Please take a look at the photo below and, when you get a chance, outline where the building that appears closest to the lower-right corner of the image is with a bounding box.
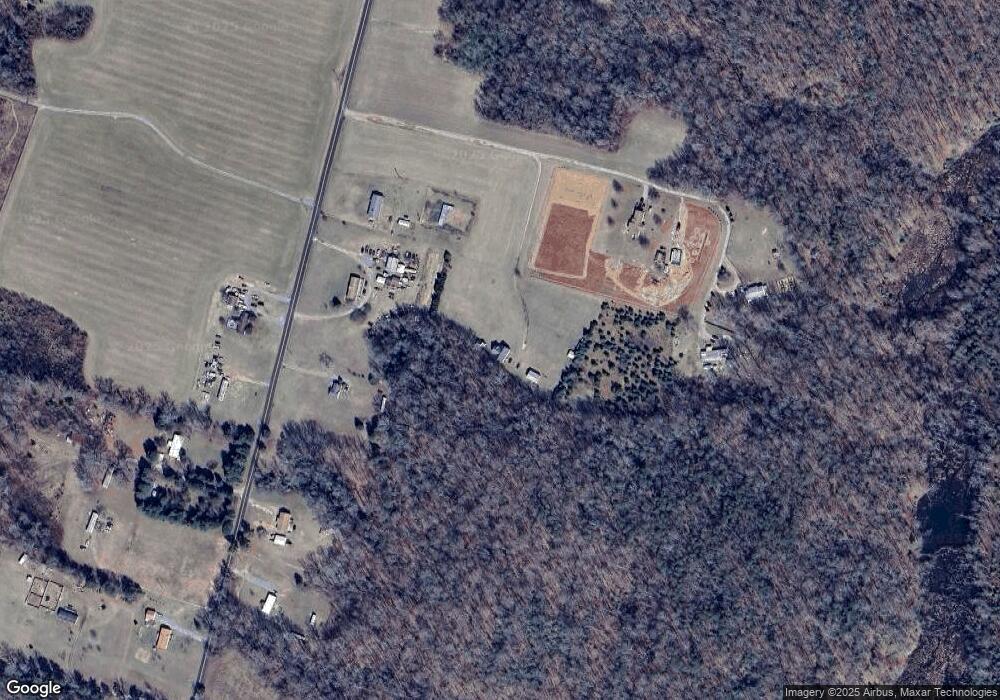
[700,347,728,371]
